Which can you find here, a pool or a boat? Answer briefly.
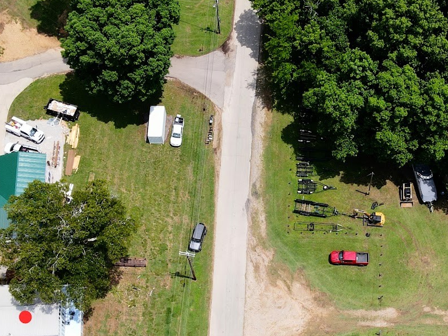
boat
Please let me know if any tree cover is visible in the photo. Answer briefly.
Yes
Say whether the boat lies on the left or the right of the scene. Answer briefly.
right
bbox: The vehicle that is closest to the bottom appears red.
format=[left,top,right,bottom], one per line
[329,248,370,266]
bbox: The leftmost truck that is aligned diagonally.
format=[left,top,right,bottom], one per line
[3,112,42,142]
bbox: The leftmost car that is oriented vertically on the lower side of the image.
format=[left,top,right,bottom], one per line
[188,219,207,251]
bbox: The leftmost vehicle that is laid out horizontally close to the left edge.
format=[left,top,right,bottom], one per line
[3,140,42,152]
